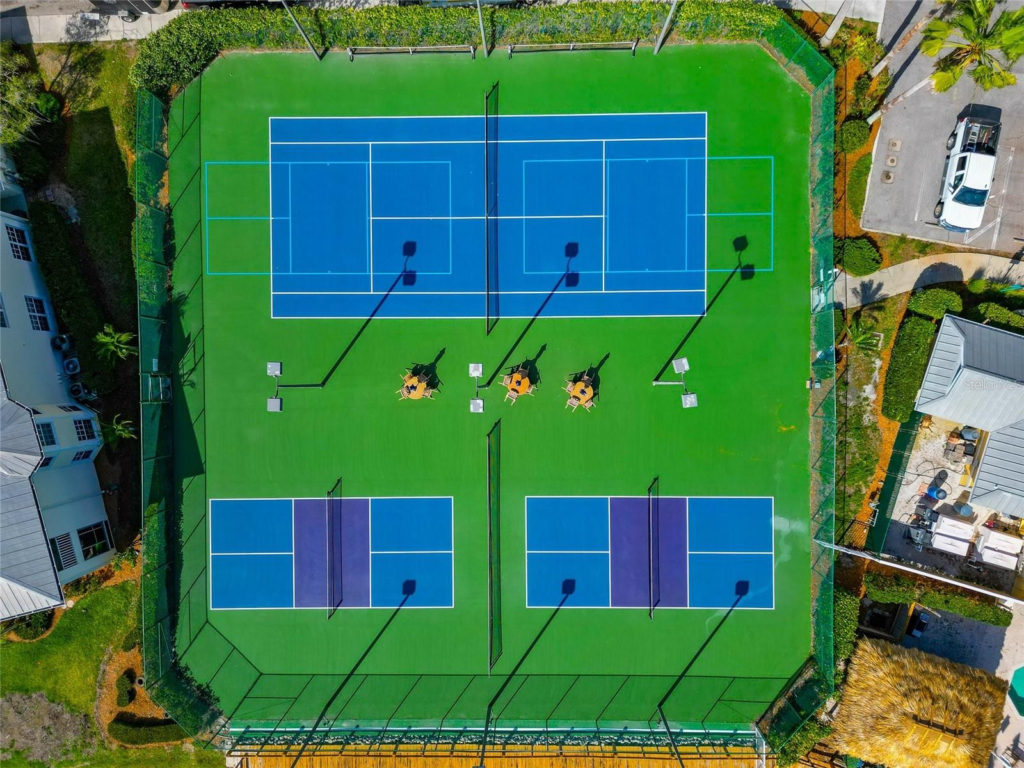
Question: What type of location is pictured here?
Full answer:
The picture captures a sports ground.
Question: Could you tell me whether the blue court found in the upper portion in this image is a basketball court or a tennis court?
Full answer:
The blue court found in the upper portion appears to be a tennis court.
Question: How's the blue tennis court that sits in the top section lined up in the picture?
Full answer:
From this overhead view, the blue tennis court that sits in the top section appears to run from left to right.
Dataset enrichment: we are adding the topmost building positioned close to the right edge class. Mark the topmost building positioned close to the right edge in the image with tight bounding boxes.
[912,311,1024,523]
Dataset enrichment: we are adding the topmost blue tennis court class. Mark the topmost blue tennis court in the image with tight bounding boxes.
[205,113,773,318]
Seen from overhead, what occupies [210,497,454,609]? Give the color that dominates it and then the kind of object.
blue sports court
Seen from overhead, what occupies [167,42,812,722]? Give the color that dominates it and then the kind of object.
green sports court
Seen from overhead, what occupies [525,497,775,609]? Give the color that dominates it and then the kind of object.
blue sports court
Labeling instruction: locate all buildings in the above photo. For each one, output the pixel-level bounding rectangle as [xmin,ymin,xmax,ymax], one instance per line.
[912,311,1024,523]
[825,635,1010,768]
[0,209,117,621]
